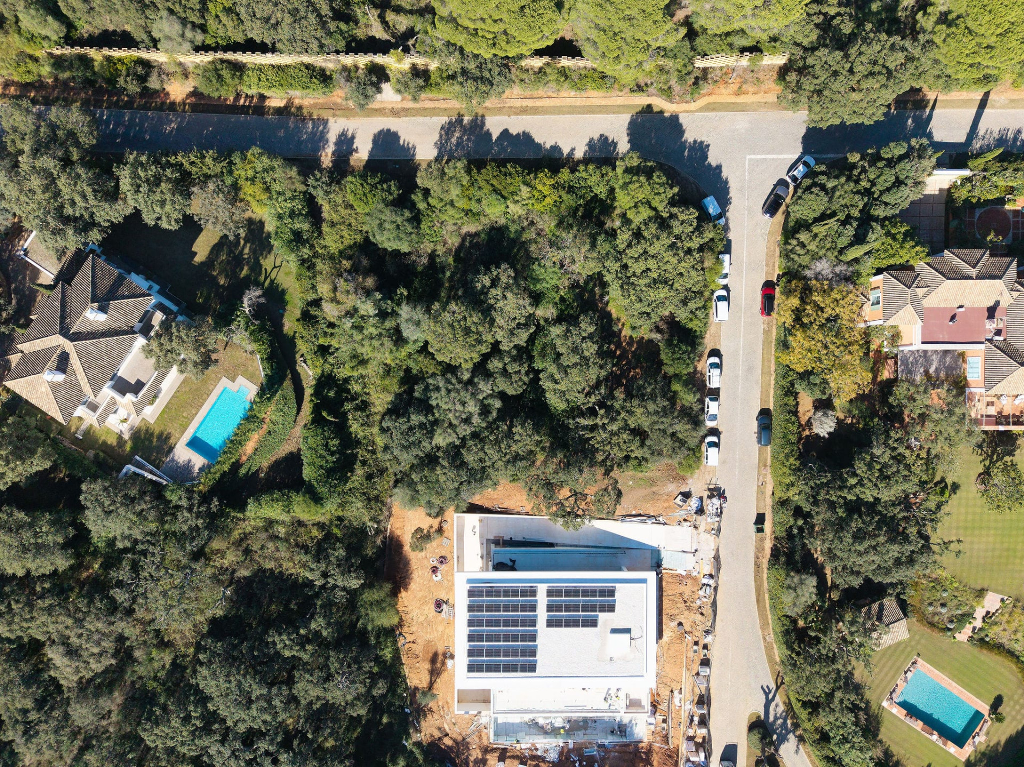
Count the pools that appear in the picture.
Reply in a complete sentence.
Altogether the scene contains 2 pools.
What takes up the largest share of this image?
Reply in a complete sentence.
The largest share of the image is taken up by trees.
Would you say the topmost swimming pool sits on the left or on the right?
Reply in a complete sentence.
It is on the left.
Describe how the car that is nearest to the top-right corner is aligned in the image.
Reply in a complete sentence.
The car that is nearest to the top-right corner is laid out diagonally.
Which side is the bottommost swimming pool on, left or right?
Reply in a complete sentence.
The bottommost swimming pool sits on the right side.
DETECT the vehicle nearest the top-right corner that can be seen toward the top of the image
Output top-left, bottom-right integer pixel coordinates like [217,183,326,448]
[785,156,814,187]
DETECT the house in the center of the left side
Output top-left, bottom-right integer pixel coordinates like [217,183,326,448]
[0,245,195,440]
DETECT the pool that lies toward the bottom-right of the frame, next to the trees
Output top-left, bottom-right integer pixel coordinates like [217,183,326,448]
[881,655,993,762]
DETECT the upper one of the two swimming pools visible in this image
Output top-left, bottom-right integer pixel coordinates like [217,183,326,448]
[161,375,256,483]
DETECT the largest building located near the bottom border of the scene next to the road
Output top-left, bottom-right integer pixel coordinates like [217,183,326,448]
[456,511,693,742]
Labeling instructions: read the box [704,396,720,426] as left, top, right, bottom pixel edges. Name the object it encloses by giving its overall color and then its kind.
white car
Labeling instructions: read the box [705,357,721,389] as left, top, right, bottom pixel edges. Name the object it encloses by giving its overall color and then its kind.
white car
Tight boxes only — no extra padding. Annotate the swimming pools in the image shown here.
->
[161,375,256,483]
[881,655,993,762]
